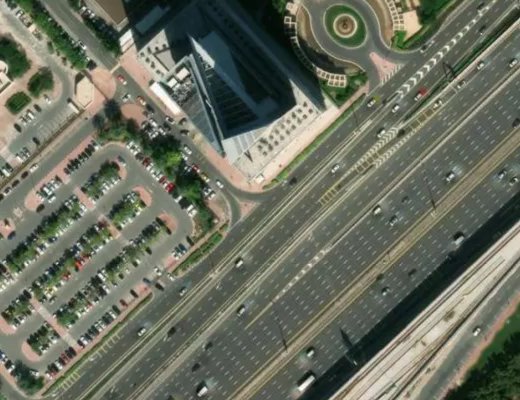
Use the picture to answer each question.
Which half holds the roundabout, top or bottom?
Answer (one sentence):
The top half of the photo is where the roundabout is.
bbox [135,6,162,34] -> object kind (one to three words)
building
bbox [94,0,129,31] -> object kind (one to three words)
building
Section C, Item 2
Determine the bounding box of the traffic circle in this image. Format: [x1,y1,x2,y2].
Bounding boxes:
[301,0,414,110]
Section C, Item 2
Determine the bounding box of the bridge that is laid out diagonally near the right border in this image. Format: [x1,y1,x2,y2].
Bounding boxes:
[328,222,520,400]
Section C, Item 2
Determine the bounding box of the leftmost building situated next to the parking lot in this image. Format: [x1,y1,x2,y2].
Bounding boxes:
[76,77,93,108]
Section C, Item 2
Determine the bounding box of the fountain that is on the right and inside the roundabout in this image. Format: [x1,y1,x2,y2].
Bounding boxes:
[334,14,358,38]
